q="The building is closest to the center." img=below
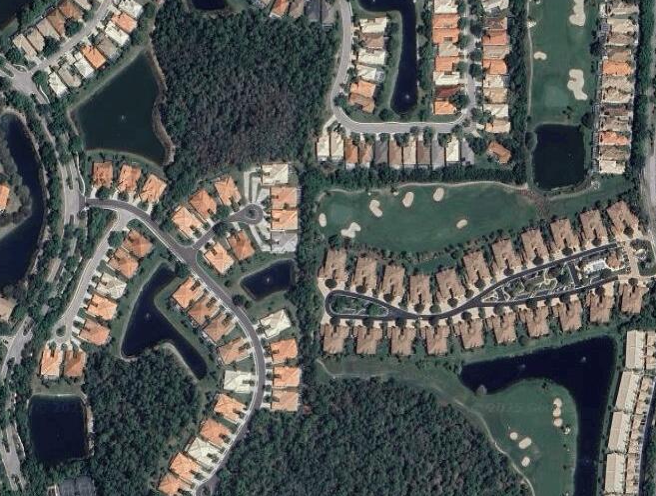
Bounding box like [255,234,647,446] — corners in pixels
[320,248,348,280]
